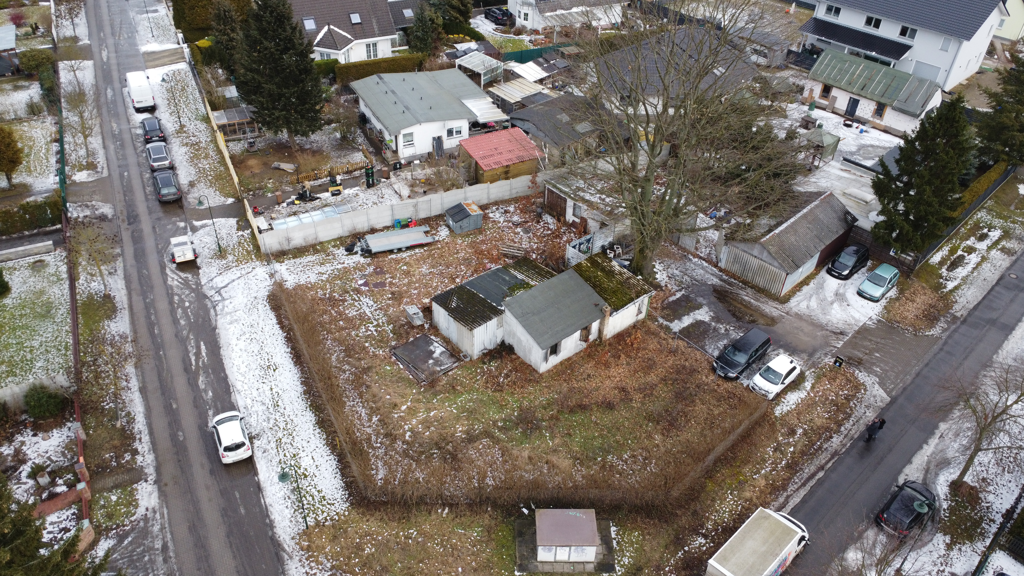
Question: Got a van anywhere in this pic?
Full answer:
Yes, a van appears in the view.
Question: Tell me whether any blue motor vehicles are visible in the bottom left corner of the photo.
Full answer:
No, no blue motor vehicle can be made out in the bottom left corner of the photo.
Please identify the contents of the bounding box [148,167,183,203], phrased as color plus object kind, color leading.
gray car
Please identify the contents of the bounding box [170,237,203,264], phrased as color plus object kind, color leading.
white trailer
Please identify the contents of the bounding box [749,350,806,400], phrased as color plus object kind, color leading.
white car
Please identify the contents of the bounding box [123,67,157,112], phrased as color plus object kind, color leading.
white van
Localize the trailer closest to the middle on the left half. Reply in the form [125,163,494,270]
[343,220,436,259]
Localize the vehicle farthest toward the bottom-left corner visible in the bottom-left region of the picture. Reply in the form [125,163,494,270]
[207,405,252,464]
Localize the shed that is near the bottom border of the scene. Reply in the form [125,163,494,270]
[533,500,601,562]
